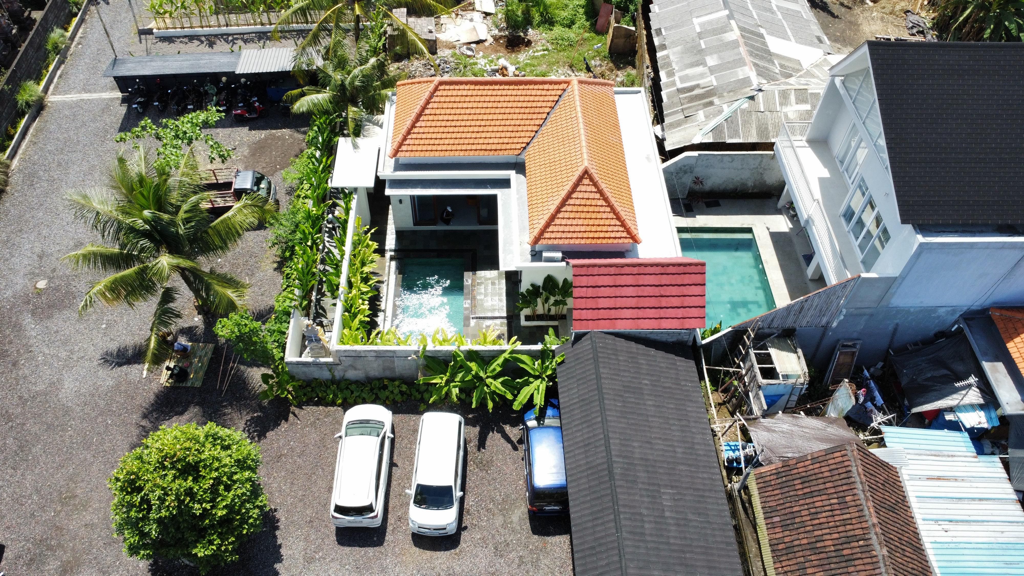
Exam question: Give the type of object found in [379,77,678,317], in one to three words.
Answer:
house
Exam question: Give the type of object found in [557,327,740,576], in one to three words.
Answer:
building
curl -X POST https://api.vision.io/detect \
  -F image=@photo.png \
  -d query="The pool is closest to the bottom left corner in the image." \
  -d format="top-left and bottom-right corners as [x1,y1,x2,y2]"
[386,254,477,346]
